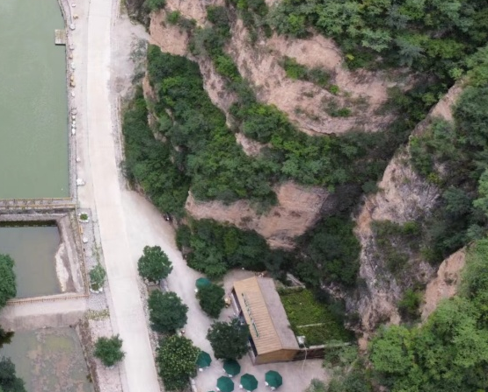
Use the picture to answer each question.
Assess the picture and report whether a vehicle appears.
No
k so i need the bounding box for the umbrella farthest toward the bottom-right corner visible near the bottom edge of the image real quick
[265,372,282,388]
